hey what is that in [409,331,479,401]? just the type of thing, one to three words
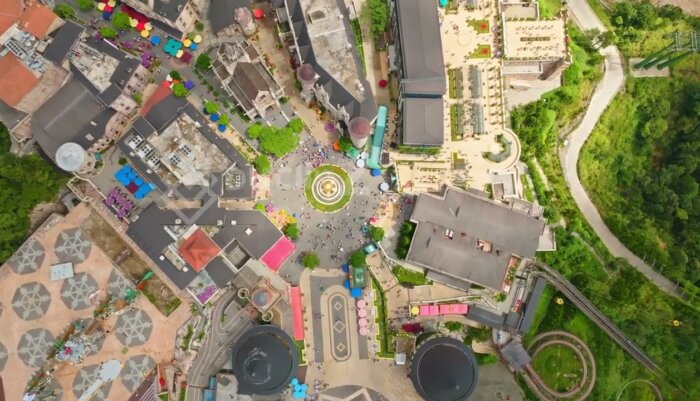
building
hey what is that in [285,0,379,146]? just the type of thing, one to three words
building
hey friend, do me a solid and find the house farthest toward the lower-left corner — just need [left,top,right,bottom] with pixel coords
[120,365,165,401]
